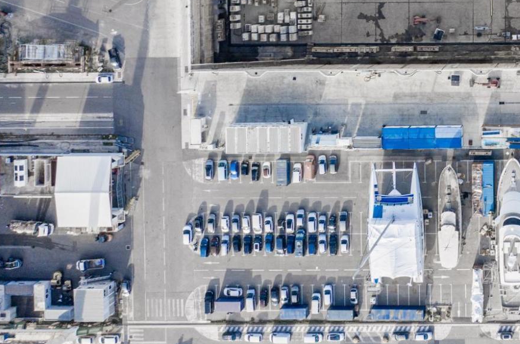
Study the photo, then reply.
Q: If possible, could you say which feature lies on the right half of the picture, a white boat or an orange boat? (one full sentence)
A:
You can see a white boat on the right half of the picture.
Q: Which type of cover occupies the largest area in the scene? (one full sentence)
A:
Most of the picture is covered by paved ground.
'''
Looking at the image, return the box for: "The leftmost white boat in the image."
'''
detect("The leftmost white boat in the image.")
[352,162,426,286]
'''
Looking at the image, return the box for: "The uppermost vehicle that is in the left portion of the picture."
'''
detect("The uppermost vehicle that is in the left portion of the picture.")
[106,48,121,71]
